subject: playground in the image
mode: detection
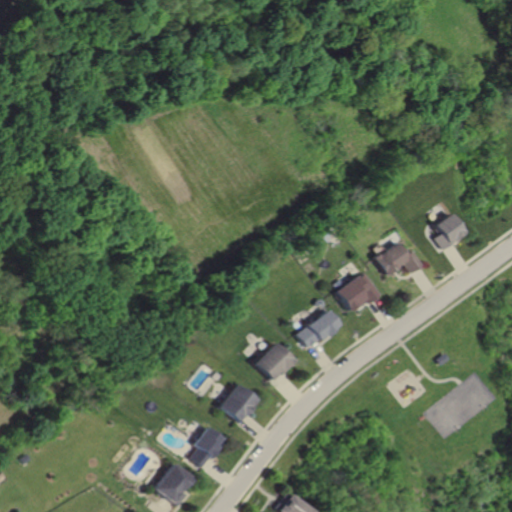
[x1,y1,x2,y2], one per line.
[387,368,426,408]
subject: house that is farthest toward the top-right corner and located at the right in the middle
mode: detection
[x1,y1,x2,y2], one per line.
[432,214,464,250]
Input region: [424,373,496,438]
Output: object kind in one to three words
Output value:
basketball court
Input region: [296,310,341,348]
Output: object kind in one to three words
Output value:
house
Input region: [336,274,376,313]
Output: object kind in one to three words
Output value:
house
